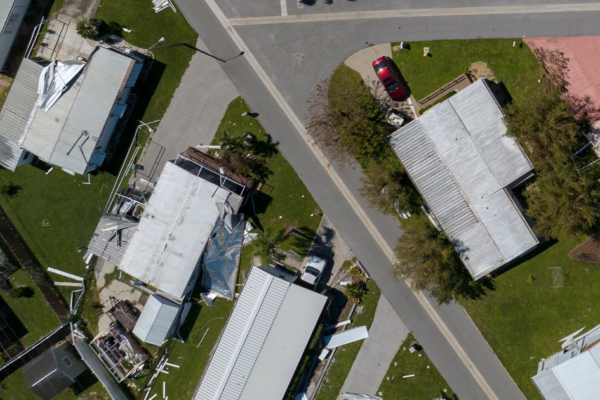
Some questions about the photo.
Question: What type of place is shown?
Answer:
residential area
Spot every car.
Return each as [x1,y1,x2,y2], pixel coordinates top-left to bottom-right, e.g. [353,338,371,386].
[371,54,411,104]
[295,252,324,287]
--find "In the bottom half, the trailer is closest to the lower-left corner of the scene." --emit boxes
[107,299,140,333]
